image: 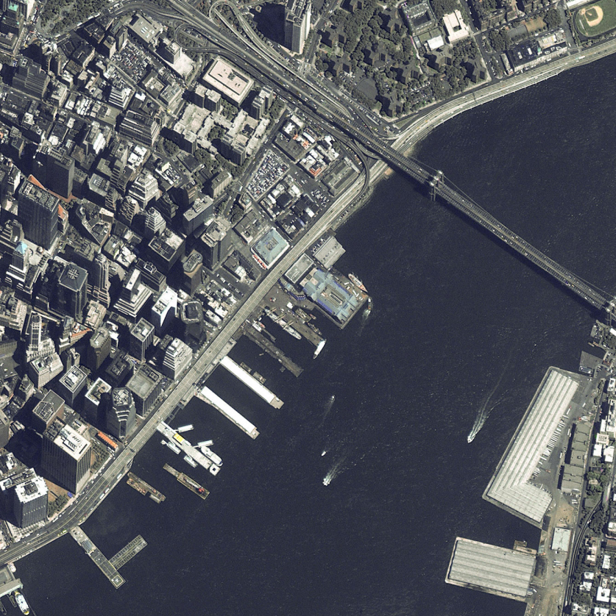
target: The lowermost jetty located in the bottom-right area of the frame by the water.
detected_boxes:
[445,537,539,603]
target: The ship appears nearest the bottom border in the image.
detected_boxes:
[15,592,30,614]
